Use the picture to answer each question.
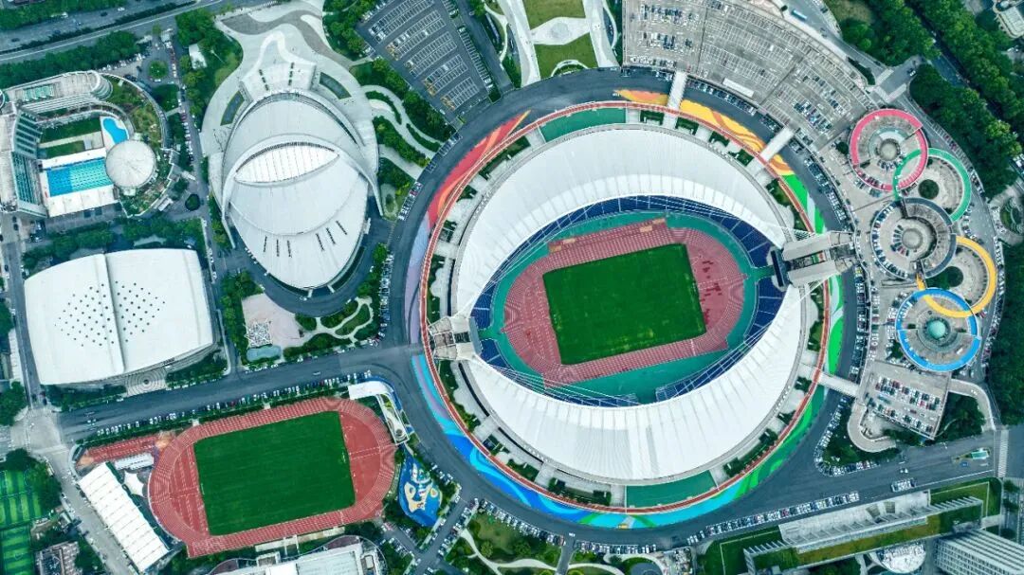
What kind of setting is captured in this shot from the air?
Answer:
sports ground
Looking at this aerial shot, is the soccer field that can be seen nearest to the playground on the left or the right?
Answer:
left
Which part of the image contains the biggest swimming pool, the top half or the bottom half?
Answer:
top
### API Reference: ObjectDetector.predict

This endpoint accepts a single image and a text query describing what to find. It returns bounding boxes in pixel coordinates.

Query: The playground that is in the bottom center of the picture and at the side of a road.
[399,447,442,527]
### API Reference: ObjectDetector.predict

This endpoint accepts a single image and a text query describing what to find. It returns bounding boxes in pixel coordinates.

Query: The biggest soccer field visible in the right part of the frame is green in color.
[544,244,707,364]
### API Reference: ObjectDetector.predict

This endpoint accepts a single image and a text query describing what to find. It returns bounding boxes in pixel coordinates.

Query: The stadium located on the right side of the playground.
[422,106,853,511]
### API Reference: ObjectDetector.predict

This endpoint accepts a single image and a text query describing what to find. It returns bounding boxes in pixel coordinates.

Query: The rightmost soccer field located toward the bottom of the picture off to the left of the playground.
[194,411,355,536]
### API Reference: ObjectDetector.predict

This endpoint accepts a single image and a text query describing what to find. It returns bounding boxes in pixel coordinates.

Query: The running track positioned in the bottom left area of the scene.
[80,397,398,556]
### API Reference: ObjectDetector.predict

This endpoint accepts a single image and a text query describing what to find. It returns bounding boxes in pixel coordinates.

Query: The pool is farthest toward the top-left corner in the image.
[100,115,130,147]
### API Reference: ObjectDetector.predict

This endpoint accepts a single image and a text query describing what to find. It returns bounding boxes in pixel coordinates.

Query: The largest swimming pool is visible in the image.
[41,148,119,219]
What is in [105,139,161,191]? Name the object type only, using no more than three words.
building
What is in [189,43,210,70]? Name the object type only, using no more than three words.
building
